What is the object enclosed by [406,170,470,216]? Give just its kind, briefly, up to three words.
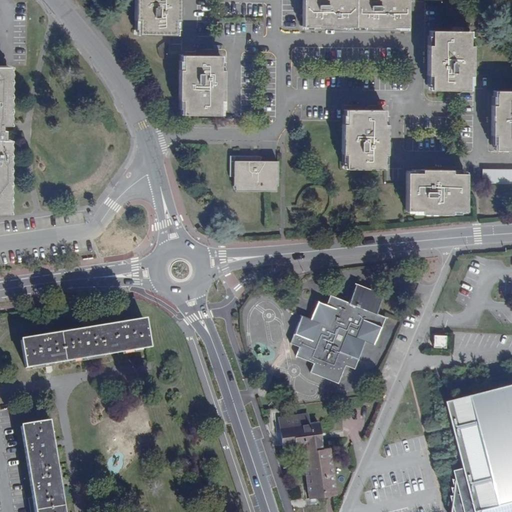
building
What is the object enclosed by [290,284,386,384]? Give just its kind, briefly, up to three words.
building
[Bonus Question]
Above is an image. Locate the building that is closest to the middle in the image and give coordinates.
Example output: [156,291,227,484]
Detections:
[229,156,279,190]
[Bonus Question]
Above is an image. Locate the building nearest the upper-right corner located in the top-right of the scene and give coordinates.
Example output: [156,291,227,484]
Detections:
[428,32,477,92]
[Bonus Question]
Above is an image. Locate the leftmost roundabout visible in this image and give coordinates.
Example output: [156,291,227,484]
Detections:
[142,232,219,308]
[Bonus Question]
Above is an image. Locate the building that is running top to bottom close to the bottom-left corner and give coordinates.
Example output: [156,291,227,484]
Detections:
[19,418,67,512]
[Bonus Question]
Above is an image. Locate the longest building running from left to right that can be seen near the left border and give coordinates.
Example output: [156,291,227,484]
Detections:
[22,316,154,367]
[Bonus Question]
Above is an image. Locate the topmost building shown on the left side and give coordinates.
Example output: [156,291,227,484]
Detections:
[134,0,183,36]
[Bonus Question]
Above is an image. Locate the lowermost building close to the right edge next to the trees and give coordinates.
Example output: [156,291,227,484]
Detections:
[444,385,512,512]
